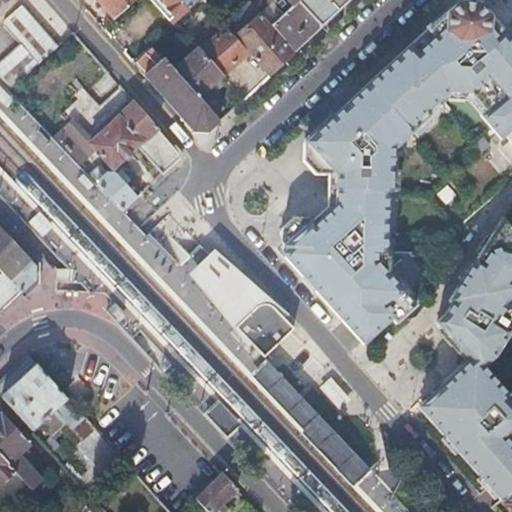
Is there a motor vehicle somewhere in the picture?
Yes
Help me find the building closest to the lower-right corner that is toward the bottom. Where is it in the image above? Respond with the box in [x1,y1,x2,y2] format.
[416,362,512,500]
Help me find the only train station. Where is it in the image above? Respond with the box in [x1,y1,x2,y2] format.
[0,84,420,512]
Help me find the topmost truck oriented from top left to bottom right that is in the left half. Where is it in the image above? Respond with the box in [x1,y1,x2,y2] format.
[166,118,194,150]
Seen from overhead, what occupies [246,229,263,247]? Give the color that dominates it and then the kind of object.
white car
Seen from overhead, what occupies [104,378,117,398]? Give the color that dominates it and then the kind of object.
white vehicle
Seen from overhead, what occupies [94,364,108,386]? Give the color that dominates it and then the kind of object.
white car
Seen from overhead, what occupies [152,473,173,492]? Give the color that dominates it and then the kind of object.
white vehicle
